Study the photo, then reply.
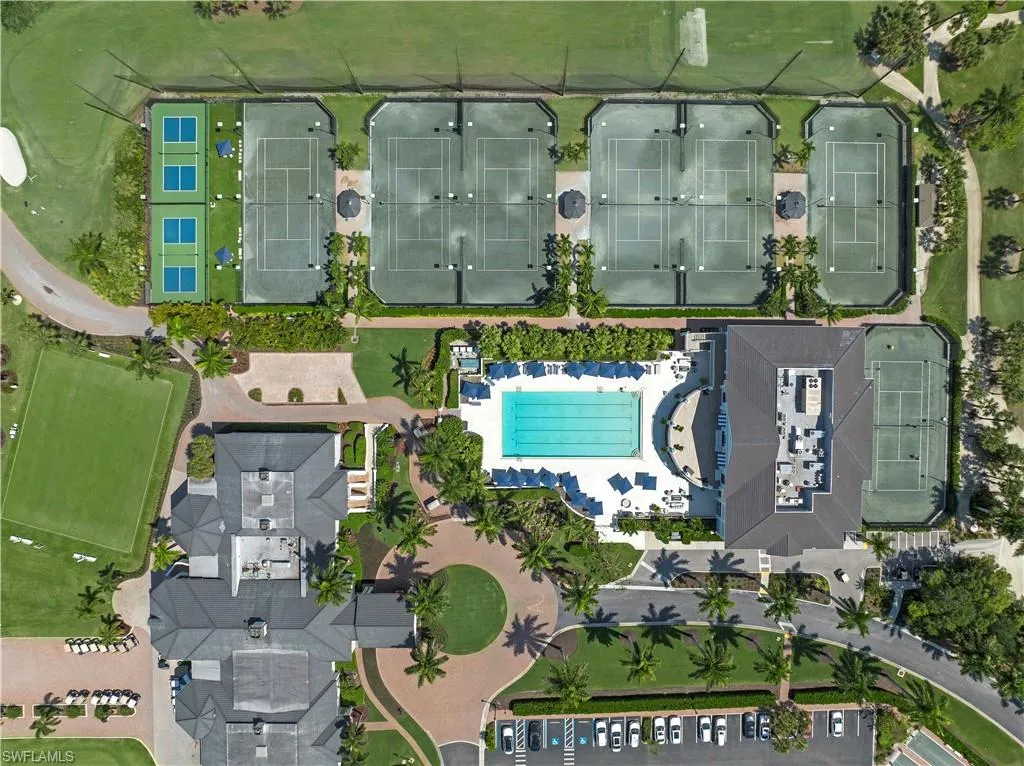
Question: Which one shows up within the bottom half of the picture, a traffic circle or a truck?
traffic circle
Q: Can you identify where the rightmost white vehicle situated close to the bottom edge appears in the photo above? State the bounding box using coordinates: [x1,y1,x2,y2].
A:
[829,710,843,738]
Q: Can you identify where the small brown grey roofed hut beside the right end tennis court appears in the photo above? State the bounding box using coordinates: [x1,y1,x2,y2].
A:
[915,185,935,229]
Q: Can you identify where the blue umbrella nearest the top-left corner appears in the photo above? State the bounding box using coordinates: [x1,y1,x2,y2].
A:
[216,139,234,158]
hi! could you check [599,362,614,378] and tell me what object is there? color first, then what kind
blue umbrella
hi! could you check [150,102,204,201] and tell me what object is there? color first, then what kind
green sports court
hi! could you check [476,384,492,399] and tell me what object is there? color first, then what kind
blue umbrella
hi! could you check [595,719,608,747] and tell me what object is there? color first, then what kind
white vehicle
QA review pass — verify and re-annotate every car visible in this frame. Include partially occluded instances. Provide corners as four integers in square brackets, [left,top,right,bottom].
[628,720,641,748]
[610,723,623,751]
[595,719,608,747]
[713,716,728,746]
[668,715,682,744]
[502,724,515,753]
[757,714,770,741]
[528,720,541,751]
[742,713,756,740]
[829,710,843,738]
[698,715,712,743]
[652,716,666,745]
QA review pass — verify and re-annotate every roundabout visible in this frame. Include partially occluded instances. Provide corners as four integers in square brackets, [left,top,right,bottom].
[415,563,508,656]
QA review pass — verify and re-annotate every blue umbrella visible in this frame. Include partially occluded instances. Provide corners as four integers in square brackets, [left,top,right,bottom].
[612,476,633,496]
[562,474,580,492]
[476,384,492,399]
[539,470,558,490]
[216,139,234,158]
[506,469,524,488]
[462,381,479,398]
[525,471,539,486]
[642,476,657,491]
[565,360,584,380]
[628,361,646,381]
[215,245,236,266]
[502,361,520,379]
[571,491,588,508]
[528,362,545,378]
[488,362,505,379]
[589,502,603,517]
[599,362,614,378]
[614,362,630,379]
[582,361,599,378]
